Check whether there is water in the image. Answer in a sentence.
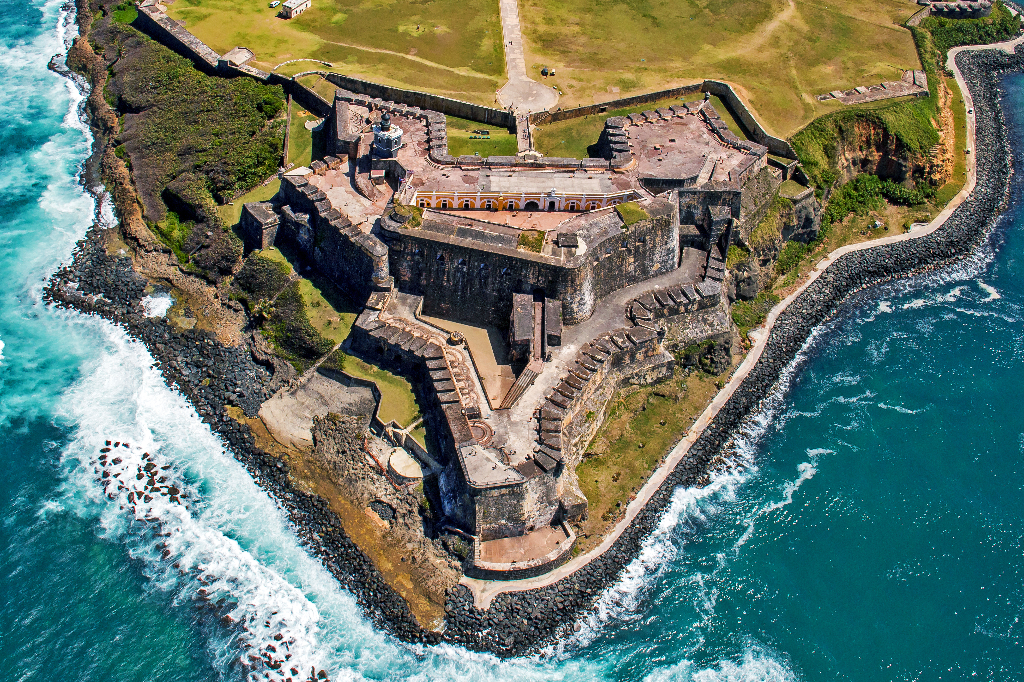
Yes, water shows up in the scene.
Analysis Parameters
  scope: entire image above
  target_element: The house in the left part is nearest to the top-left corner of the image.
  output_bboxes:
[218,47,257,84]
